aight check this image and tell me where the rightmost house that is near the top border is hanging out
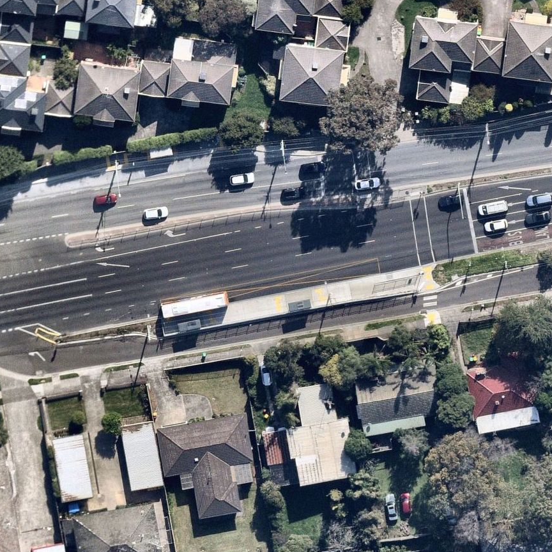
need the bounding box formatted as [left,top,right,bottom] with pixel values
[503,11,552,83]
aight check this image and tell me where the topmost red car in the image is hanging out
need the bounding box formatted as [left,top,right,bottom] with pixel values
[95,193,117,206]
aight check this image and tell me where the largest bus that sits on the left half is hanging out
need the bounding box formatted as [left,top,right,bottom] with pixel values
[159,297,228,323]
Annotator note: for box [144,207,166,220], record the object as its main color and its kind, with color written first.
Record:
white vehicle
